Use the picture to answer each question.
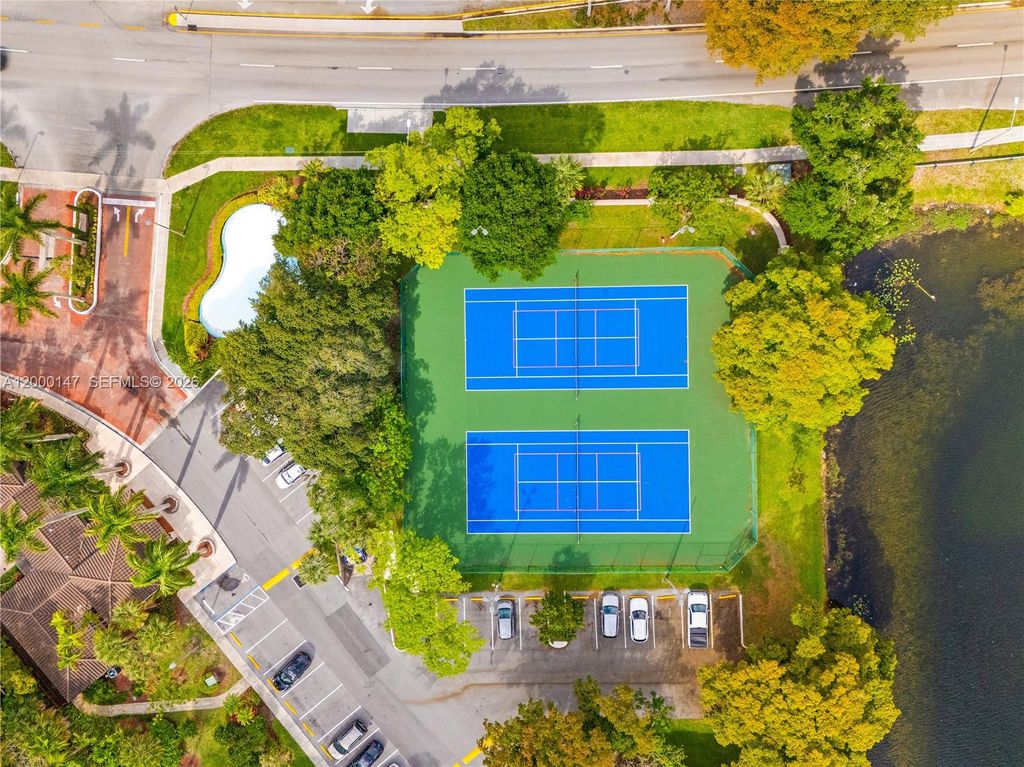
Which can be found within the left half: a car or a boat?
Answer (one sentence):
Visible within the left half is a car.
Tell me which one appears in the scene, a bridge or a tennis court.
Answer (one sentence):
There is a tennis court in the scene.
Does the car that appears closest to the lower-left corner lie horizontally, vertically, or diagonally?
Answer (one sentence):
What the image shows is the car that appears closest to the lower-left corner lying diagonally.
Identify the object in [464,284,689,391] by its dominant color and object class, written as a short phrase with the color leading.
blue tennis court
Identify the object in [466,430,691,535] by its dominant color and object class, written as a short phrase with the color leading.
blue tennis court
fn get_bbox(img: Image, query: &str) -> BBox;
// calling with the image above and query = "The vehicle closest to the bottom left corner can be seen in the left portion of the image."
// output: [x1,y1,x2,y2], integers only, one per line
[272,652,313,689]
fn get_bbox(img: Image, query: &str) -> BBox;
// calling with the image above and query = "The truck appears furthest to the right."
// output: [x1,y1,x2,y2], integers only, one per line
[686,590,710,648]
